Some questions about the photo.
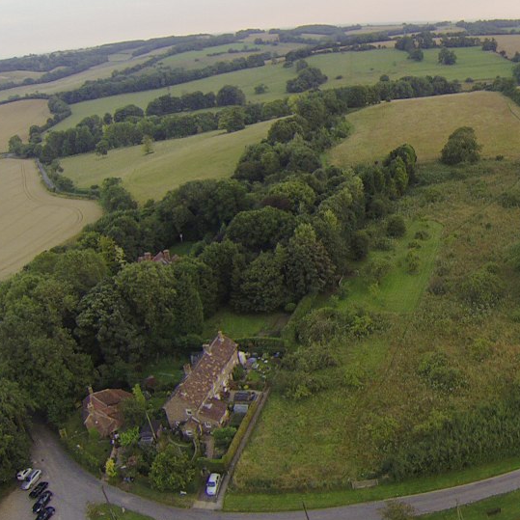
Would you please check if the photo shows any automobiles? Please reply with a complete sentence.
Yes, I can see an automobile in this picture.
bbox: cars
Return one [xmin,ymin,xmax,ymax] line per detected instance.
[33,489,51,508]
[21,466,41,486]
[27,478,50,497]
[34,504,55,520]
[207,470,220,492]
[14,462,32,479]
